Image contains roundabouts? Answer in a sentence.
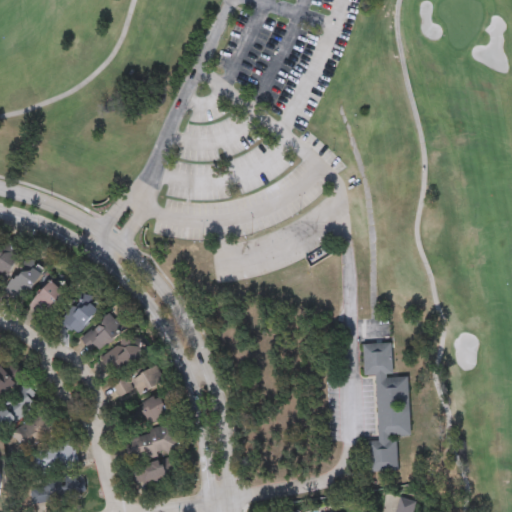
No, there is no roundabout in the image.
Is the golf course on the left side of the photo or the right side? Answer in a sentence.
The golf course appears in the right half of the scene.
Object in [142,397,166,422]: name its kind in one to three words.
house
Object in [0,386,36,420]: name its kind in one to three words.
house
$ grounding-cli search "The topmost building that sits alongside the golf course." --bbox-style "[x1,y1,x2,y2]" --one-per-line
[364,343,412,472]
